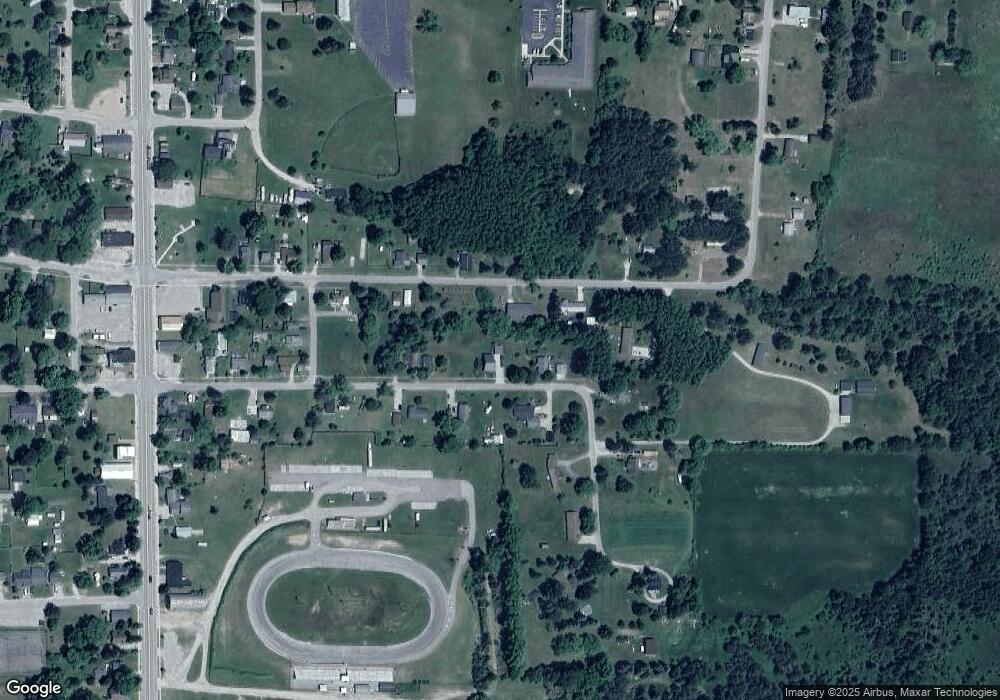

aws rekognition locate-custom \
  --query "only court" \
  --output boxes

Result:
[0,632,45,672]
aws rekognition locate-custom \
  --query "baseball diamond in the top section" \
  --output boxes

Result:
[319,97,398,178]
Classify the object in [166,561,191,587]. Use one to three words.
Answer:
barn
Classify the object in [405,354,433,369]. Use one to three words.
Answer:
house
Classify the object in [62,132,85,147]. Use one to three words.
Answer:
building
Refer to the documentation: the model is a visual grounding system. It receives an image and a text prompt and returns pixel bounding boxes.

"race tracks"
[247,548,451,665]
